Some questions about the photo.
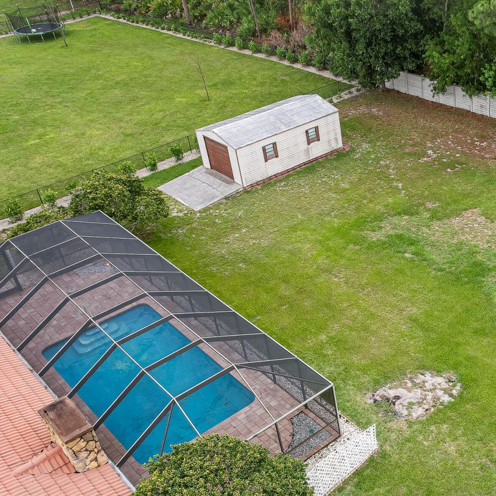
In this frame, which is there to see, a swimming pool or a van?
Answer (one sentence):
It is a swimming pool that can be seen here.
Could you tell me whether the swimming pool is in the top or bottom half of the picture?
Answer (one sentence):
The swimming pool is in the bottom half of the image.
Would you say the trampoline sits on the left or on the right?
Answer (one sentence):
The trampoline sits on the left side.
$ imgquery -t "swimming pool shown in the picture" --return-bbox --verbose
[44,308,254,465]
